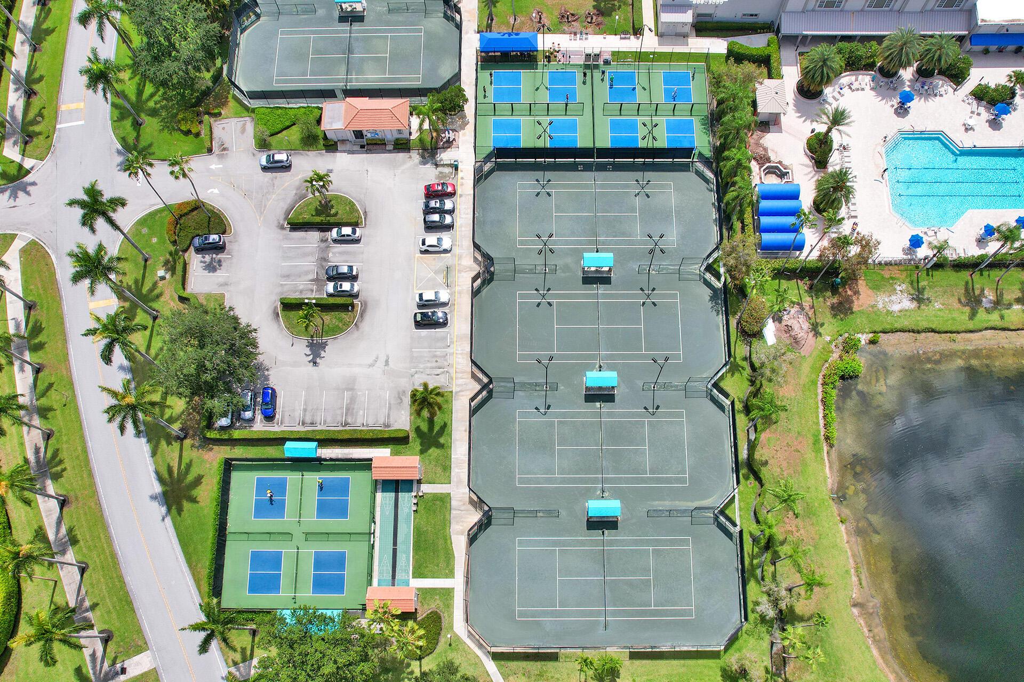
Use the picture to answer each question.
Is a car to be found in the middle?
Yes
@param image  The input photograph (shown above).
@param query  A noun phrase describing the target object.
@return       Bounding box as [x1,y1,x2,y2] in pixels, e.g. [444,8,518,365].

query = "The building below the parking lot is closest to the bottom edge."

[365,587,420,612]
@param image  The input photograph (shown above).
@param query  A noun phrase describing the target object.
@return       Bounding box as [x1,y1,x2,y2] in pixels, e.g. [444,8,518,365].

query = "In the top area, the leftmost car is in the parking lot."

[192,237,225,252]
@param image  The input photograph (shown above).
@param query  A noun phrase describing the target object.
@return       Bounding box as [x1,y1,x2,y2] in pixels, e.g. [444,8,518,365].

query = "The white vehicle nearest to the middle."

[415,292,450,307]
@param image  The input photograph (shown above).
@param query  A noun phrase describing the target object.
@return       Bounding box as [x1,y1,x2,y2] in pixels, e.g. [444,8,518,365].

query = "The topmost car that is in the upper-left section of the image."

[259,155,289,170]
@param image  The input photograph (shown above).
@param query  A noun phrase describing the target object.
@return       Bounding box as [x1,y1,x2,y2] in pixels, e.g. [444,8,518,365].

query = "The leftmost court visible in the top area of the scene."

[236,0,458,106]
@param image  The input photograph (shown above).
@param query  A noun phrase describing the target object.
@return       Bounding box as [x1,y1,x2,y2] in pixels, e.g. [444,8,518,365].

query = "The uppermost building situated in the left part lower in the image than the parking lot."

[371,456,424,481]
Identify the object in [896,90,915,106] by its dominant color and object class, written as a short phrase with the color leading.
blue umbrella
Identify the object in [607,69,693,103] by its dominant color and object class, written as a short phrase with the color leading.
blue sports court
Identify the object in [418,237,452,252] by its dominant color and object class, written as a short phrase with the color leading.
white car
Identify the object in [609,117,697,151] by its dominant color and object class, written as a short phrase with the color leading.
blue sports court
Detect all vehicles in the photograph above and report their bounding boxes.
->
[325,267,358,282]
[418,237,452,252]
[325,283,359,299]
[330,229,361,244]
[238,391,255,421]
[424,183,455,199]
[415,292,450,307]
[414,312,447,328]
[258,389,276,419]
[423,214,453,230]
[192,237,225,252]
[215,410,231,427]
[422,200,454,215]
[259,155,289,170]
